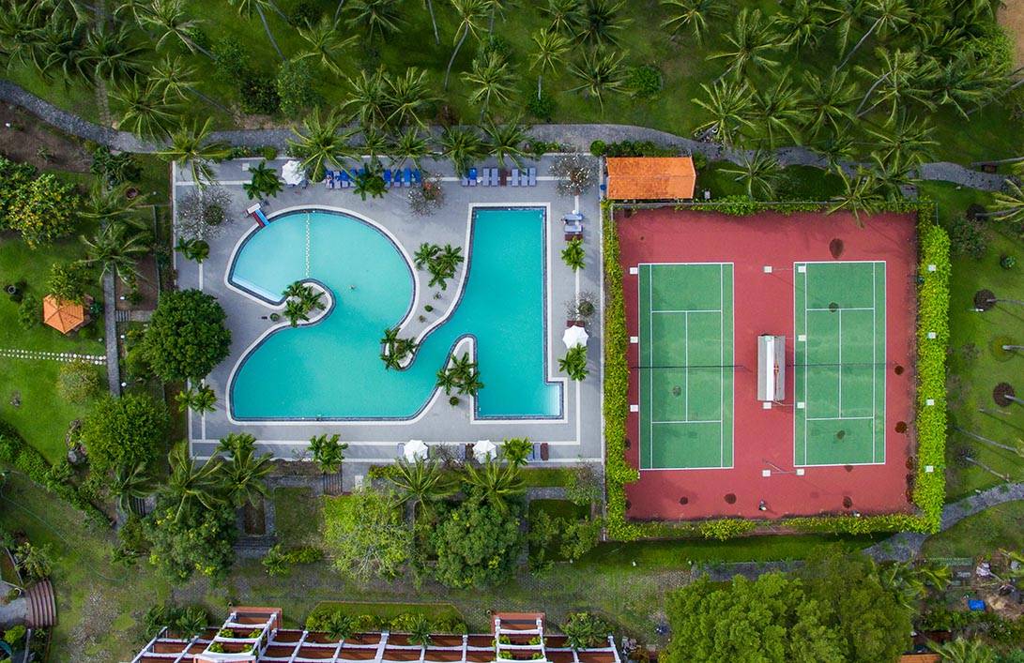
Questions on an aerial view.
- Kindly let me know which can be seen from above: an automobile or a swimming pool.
swimming pool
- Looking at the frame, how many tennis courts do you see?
2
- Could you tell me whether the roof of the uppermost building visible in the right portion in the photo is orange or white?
orange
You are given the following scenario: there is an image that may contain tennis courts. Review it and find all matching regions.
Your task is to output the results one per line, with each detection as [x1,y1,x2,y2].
[787,261,899,466]
[635,263,745,470]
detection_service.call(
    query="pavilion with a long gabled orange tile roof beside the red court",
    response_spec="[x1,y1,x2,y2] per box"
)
[606,157,697,199]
